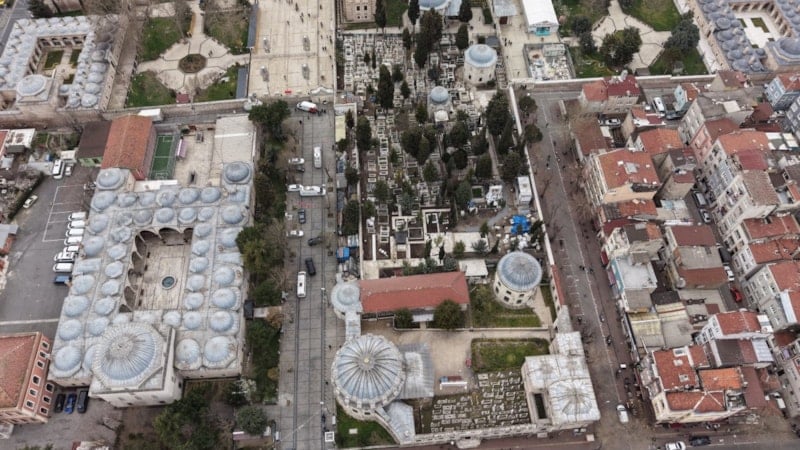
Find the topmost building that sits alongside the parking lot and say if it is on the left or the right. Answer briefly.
left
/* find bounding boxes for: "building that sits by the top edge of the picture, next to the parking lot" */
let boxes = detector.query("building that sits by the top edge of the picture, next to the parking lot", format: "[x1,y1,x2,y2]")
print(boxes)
[0,14,133,130]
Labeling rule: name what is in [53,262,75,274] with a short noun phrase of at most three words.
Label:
vehicle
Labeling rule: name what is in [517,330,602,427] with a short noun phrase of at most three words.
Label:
building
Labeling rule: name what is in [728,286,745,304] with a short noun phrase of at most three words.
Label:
car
